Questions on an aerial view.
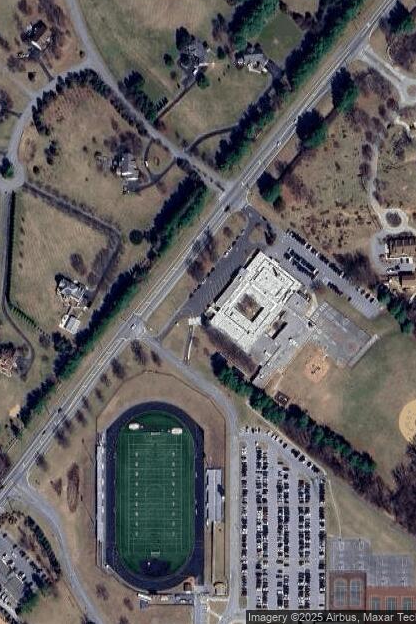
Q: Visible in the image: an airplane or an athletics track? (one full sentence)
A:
The one in the frame is an athletics track.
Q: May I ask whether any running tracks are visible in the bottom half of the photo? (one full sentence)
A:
Yes, a running track shows up in the bottom half of the photo.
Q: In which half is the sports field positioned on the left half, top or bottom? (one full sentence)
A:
You can find the sports field positioned on the left half in the bottom half.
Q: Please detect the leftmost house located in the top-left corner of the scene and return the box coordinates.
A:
[23,21,51,50]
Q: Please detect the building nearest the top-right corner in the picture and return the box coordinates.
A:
[237,52,266,70]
